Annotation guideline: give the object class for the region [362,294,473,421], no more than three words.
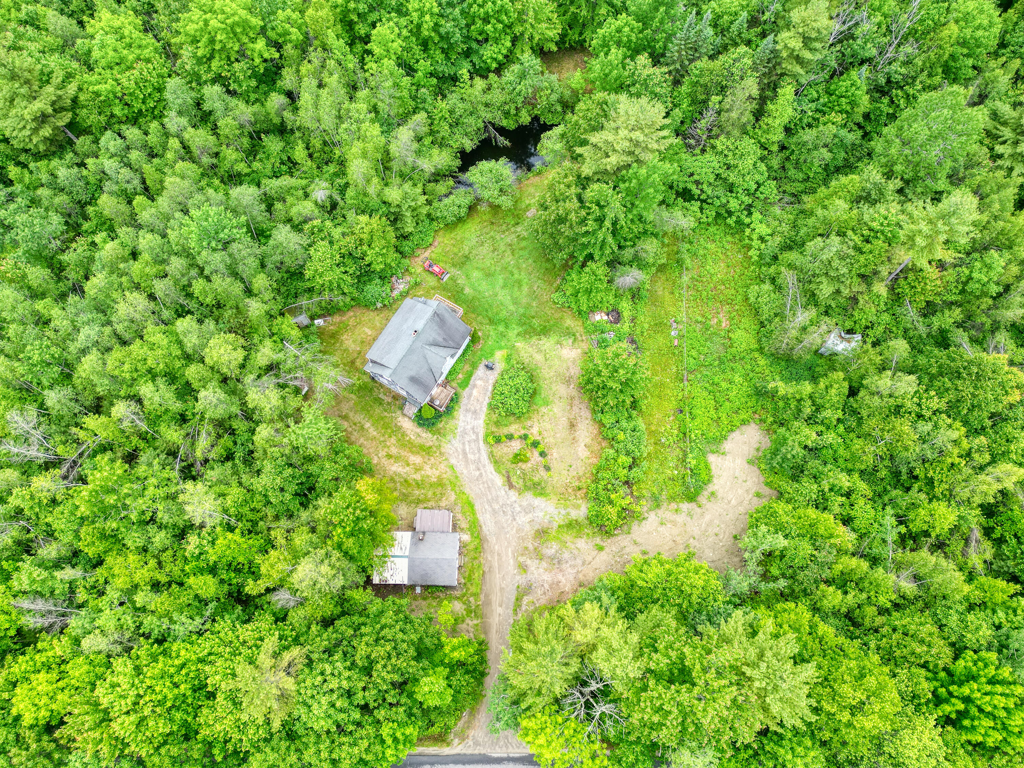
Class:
house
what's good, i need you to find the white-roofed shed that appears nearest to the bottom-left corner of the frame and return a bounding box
[370,511,468,587]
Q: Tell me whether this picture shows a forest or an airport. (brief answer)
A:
forest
